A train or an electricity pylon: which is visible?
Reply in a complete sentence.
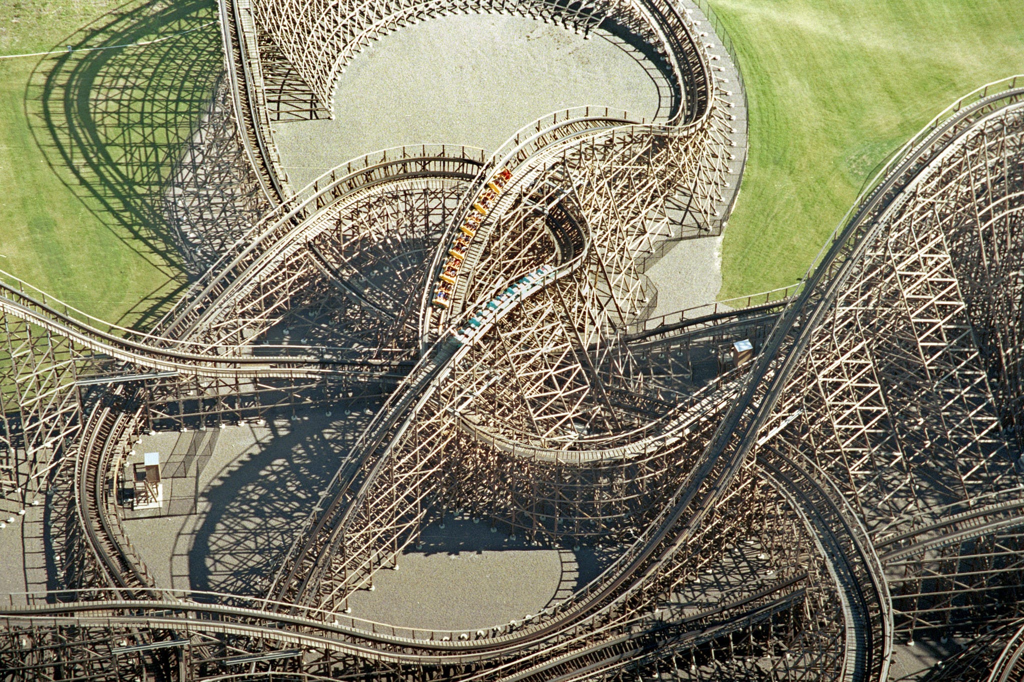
The image shows a train.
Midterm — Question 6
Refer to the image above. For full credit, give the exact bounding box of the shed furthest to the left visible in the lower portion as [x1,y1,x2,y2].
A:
[130,451,166,507]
